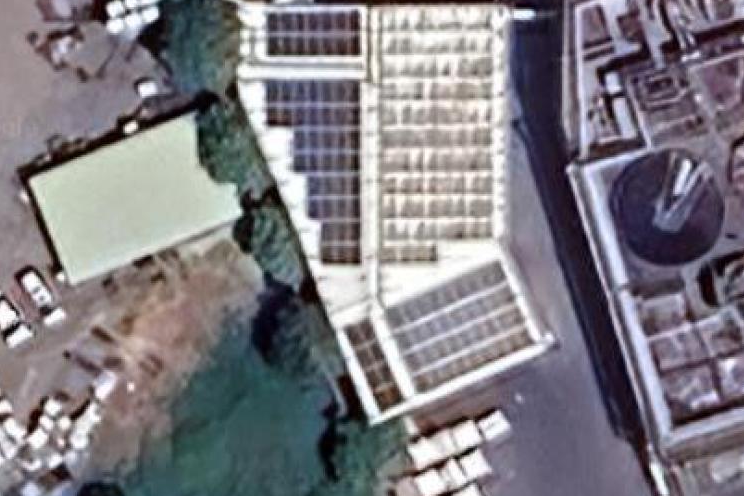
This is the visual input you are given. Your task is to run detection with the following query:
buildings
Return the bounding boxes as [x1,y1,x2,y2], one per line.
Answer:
[563,0,744,450]
[238,2,555,426]
[29,113,242,284]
